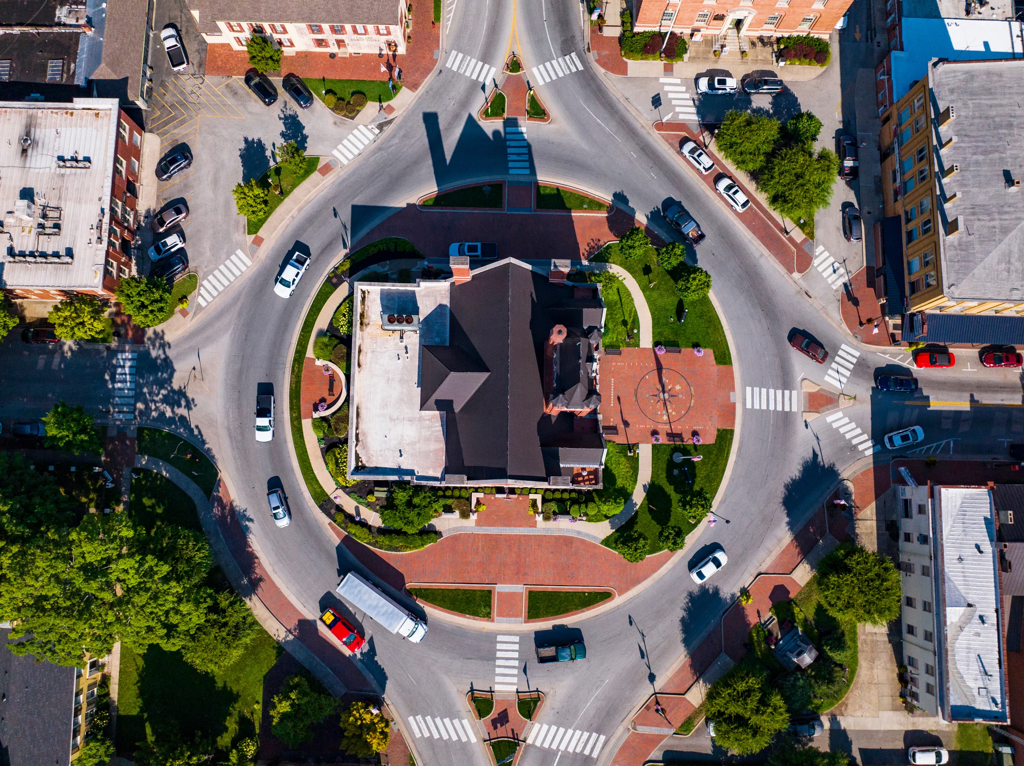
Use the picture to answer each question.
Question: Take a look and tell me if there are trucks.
Yes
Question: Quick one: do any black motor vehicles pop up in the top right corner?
Yes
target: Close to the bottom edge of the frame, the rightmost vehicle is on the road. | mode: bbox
[906,745,947,766]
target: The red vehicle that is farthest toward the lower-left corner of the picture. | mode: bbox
[319,608,363,650]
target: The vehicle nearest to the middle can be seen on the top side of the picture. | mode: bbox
[450,240,497,260]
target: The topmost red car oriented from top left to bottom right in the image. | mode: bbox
[788,334,829,365]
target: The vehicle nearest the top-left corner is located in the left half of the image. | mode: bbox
[162,28,189,73]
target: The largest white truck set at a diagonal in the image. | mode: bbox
[336,570,429,639]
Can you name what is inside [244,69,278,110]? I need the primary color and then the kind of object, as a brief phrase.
black car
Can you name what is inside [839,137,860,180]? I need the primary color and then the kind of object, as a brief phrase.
black truck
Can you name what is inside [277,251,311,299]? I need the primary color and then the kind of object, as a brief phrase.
white truck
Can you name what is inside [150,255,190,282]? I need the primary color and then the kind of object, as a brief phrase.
black car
